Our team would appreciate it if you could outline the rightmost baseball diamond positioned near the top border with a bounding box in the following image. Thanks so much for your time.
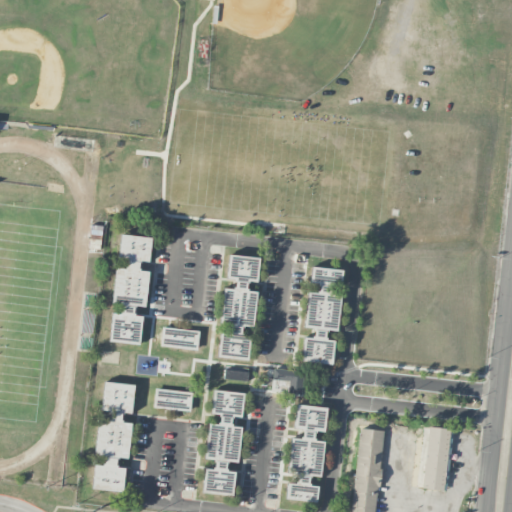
[209,0,378,100]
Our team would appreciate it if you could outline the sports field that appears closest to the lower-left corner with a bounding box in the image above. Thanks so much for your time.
[0,203,62,424]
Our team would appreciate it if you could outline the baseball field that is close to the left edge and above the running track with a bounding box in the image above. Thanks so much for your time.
[0,28,65,110]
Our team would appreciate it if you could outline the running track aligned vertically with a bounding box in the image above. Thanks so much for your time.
[0,137,99,486]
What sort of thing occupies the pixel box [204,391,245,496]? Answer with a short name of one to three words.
building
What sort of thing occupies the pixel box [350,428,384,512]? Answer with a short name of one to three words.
building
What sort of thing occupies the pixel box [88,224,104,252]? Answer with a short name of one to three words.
shed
